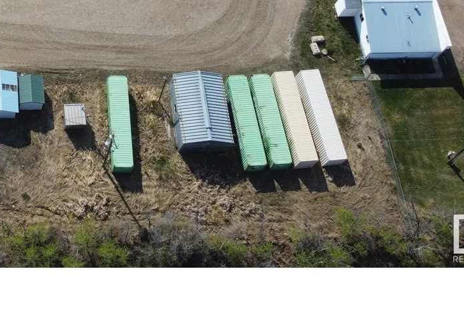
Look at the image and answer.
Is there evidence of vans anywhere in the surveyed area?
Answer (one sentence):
No, I can't see a single van in this photo.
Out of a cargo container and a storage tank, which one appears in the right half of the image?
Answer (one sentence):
Looking in the right half of the image, you will find a cargo container.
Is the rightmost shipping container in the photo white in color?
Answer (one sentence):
Yes, white is the color of the rightmost shipping container.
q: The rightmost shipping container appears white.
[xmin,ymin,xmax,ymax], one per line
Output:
[297,69,347,166]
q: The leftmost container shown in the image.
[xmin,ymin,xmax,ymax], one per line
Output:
[106,75,134,174]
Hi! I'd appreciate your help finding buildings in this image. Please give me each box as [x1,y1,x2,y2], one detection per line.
[326,0,451,64]
[168,69,237,154]
[20,72,44,110]
[63,102,86,131]
[0,68,19,118]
